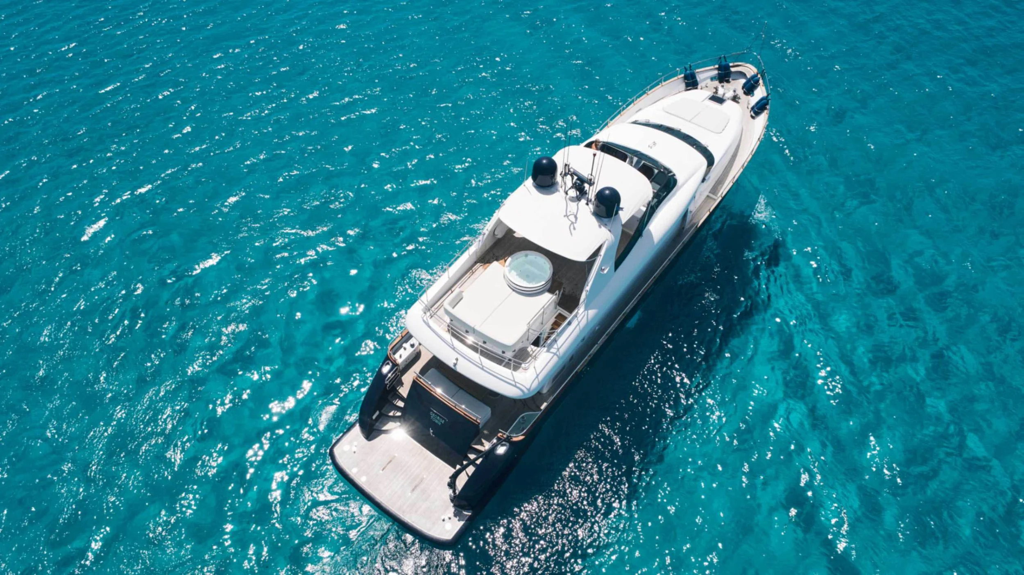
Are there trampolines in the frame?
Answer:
No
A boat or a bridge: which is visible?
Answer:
boat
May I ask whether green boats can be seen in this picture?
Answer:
No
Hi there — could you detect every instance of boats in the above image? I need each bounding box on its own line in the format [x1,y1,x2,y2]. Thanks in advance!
[335,20,774,544]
